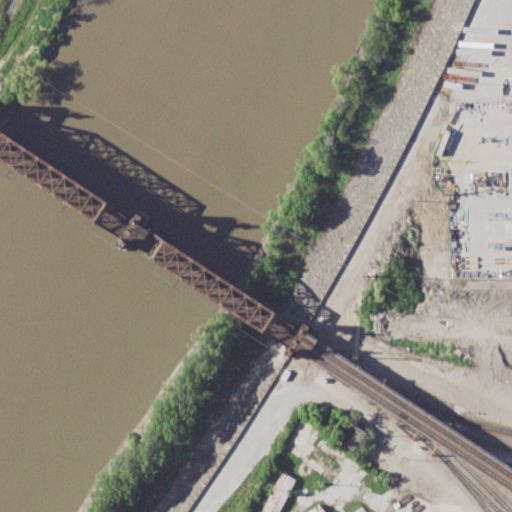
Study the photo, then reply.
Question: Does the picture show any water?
Yes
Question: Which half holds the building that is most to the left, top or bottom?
bottom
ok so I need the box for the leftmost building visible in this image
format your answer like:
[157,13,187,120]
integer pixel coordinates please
[262,476,293,512]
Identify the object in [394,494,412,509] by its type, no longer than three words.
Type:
vehicle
